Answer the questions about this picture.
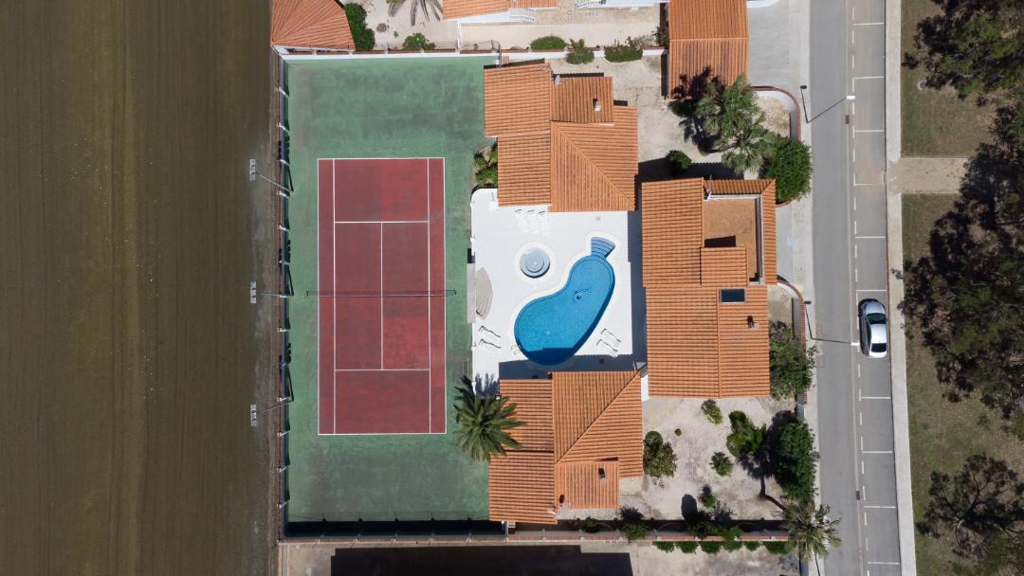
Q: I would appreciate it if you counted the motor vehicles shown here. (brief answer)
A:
1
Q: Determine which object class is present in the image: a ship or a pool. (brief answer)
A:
pool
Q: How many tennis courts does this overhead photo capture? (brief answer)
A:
1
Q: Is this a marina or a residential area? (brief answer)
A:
residential area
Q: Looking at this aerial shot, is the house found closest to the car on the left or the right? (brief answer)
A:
right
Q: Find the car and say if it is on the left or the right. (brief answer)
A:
right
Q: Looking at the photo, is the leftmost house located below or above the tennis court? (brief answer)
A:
above it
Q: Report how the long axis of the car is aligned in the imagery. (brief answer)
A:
from top to bottom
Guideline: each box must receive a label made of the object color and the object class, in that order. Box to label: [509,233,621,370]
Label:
blue swimming pool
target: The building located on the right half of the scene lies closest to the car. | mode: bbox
[642,177,779,398]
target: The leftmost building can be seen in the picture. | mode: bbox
[272,0,356,51]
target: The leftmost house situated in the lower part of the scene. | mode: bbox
[488,371,645,526]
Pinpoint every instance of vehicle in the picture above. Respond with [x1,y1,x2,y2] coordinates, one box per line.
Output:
[861,303,890,357]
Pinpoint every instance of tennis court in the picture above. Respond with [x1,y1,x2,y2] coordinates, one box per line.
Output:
[287,59,499,531]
